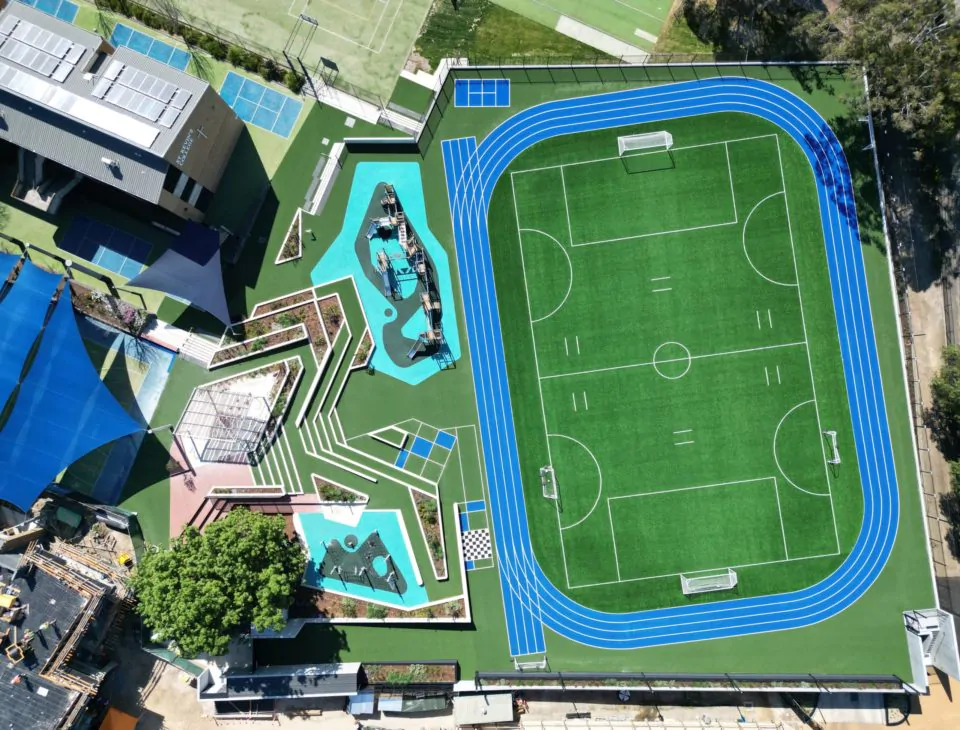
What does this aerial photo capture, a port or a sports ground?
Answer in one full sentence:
The area seen from above is a sports ground.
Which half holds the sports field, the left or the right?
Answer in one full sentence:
It is on the right.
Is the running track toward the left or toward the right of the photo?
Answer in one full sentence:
You can find the running track on the right side of the picture.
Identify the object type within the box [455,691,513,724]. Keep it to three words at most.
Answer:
building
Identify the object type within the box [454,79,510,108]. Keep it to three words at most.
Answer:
sports court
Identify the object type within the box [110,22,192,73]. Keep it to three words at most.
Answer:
sports court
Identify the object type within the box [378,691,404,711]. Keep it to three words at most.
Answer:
shed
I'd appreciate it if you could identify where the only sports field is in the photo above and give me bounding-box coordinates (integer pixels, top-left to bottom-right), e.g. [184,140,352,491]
[487,112,862,615]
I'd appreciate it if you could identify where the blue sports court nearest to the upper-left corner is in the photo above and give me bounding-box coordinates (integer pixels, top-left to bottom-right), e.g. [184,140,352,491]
[38,0,80,24]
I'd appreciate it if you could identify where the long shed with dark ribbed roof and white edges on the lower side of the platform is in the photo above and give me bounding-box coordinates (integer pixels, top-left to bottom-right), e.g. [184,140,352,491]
[197,660,361,701]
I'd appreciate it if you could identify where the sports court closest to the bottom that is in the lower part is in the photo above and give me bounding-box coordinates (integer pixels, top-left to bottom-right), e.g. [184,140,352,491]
[395,418,487,531]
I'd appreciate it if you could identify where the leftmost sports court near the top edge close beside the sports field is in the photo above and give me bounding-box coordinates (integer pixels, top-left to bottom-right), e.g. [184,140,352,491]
[133,0,434,109]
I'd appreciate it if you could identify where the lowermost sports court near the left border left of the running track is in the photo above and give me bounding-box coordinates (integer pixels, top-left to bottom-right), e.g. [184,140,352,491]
[0,302,179,506]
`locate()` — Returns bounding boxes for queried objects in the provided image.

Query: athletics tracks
[439,76,897,656]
